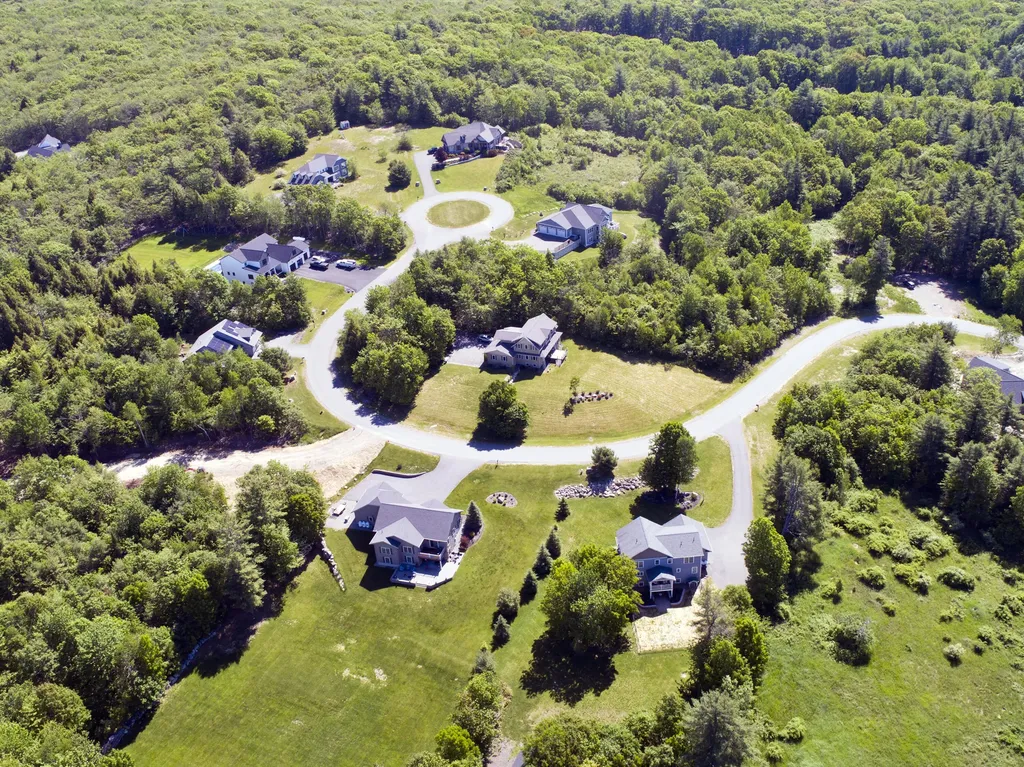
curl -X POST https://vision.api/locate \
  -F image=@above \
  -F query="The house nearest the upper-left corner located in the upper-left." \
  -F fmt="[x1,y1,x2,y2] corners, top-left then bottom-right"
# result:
[24,137,75,168]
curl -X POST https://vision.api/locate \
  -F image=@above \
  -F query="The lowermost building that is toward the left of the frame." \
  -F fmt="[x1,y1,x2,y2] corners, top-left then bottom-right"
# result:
[354,480,460,569]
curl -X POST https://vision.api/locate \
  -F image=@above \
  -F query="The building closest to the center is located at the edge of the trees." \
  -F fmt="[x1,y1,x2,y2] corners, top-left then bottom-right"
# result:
[483,313,572,375]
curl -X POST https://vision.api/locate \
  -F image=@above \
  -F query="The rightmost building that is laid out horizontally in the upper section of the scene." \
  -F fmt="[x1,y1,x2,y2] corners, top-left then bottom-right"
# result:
[536,202,625,244]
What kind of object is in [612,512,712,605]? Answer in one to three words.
house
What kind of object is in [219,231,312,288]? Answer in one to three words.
house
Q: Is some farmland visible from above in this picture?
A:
No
